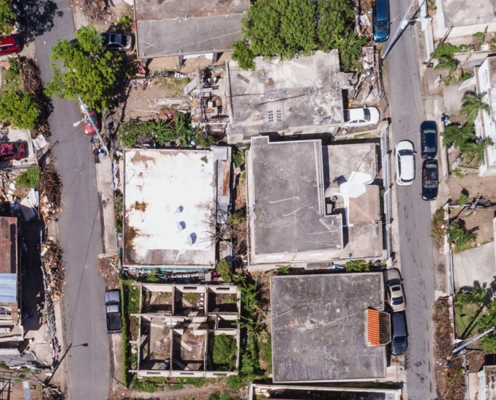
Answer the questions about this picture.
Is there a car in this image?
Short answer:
Yes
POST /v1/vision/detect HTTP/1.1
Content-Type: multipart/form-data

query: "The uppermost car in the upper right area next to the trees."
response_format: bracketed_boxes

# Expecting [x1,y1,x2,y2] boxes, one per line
[369,0,393,43]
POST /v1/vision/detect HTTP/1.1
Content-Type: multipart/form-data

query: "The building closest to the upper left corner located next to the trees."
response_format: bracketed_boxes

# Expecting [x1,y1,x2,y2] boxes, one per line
[131,0,247,73]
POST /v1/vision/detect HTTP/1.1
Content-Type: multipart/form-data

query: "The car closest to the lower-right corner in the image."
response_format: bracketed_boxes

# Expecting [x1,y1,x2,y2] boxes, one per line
[387,313,411,355]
